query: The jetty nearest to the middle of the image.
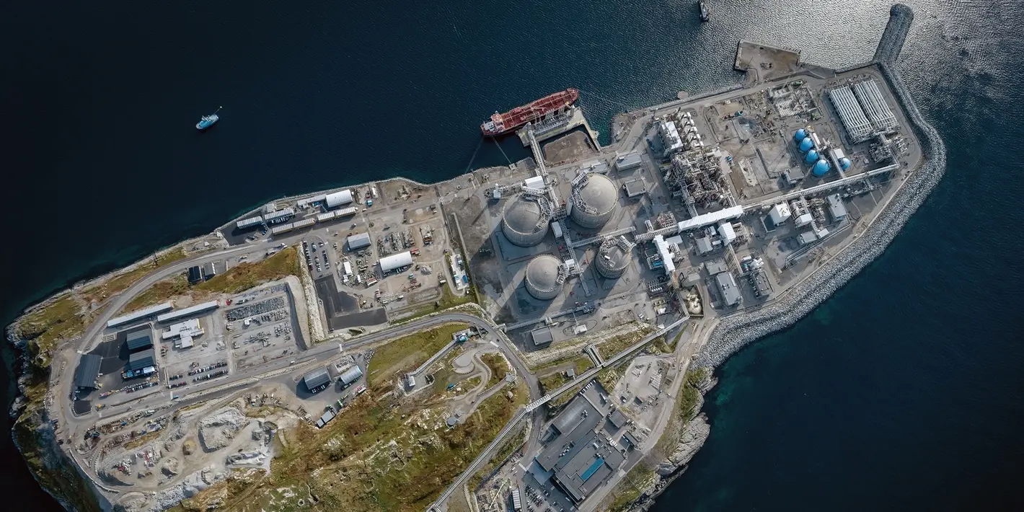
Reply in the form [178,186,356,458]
[515,107,601,152]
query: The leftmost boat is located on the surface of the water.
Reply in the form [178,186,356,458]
[196,115,221,129]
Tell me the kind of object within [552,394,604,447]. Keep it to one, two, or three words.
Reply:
building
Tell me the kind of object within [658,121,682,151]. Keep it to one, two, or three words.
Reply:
house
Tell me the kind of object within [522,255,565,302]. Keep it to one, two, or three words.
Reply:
storage tank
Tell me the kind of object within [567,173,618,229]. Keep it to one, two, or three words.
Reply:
storage tank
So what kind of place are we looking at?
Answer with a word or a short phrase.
port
